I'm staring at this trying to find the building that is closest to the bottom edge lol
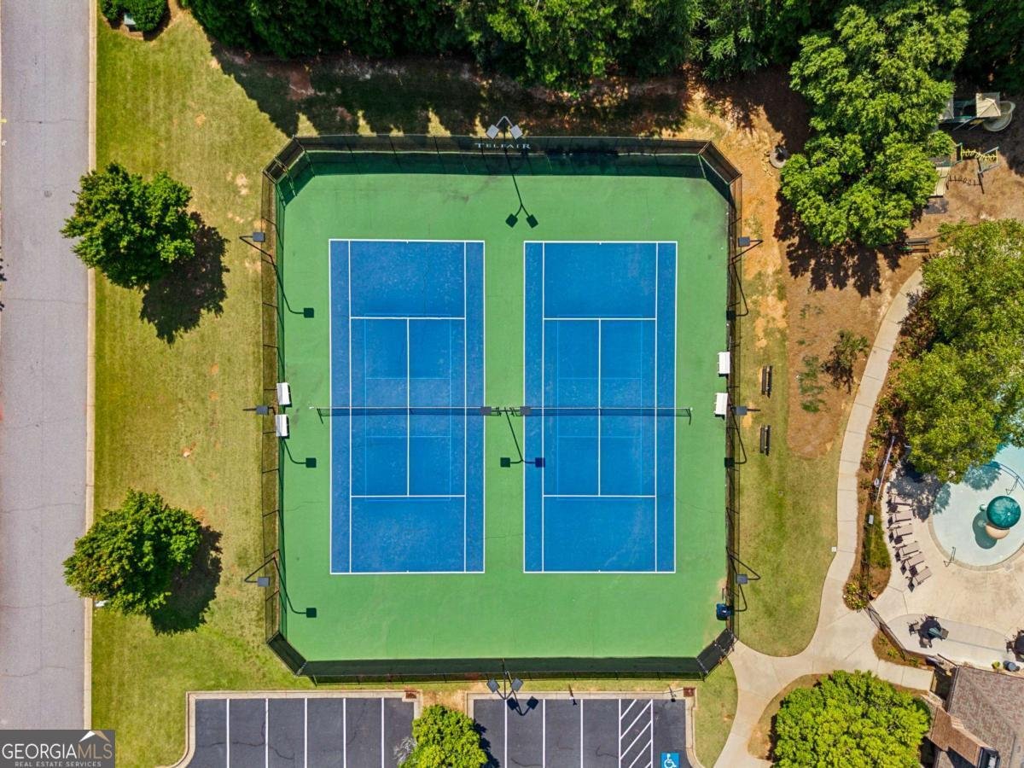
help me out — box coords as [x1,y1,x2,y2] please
[904,664,1024,768]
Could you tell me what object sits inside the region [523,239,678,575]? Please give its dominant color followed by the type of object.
blue tennis court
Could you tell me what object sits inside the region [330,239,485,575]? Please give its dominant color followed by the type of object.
blue tennis court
